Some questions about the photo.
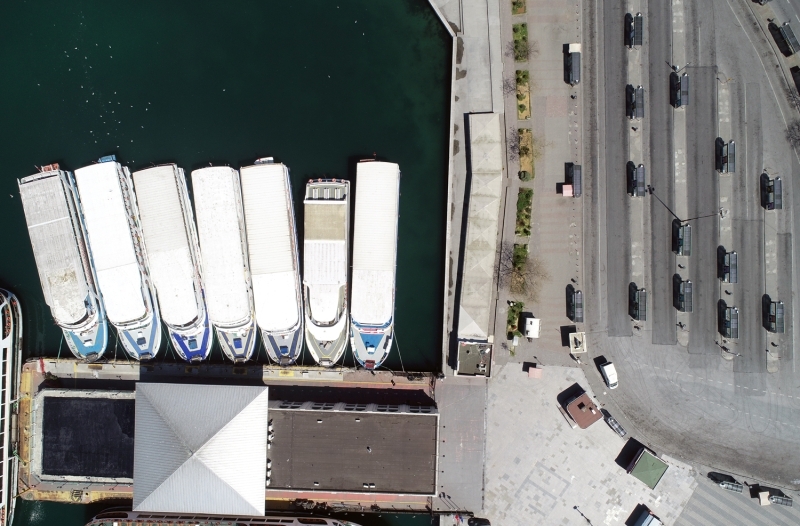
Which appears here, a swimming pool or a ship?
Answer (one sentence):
The one in the frame is a ship.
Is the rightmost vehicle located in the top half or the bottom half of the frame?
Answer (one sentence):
The rightmost vehicle sits in the bottom half of the picture.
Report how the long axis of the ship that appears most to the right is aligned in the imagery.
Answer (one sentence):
In this picture, the ship that appears most to the right lies up and down.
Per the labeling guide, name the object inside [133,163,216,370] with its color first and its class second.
white ship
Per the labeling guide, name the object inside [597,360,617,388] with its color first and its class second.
white vehicle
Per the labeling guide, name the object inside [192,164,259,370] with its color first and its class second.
white ship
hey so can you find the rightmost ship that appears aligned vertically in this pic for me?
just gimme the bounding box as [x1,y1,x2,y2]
[348,152,401,374]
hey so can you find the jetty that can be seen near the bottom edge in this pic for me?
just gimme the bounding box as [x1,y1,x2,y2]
[21,357,437,513]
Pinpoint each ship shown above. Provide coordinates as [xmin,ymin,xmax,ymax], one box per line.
[76,156,167,367]
[348,152,401,374]
[87,507,369,526]
[302,170,351,374]
[0,287,27,526]
[133,163,216,370]
[17,167,113,371]
[192,164,259,370]
[241,156,305,370]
